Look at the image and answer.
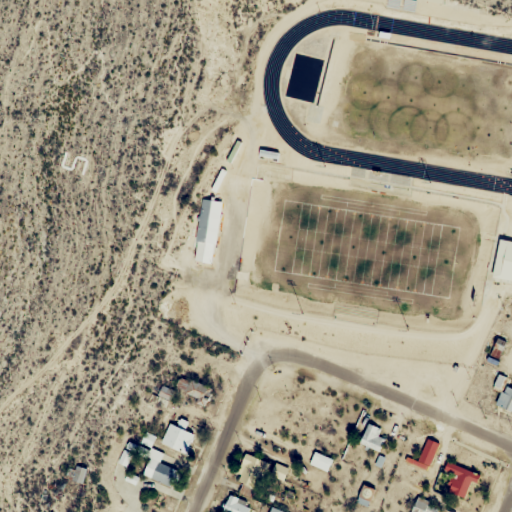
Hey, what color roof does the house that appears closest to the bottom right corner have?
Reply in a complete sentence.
From above, the roof of the house that appears closest to the bottom right corner looks red.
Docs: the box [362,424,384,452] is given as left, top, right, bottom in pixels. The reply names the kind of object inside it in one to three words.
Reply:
house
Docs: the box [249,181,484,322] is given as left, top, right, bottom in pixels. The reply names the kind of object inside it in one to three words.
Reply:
sports field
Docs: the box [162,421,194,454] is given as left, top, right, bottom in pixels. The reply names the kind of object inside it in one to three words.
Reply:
house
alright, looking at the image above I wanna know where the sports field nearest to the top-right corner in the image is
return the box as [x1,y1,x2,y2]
[280,27,512,178]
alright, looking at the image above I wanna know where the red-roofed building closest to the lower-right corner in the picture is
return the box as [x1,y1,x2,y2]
[446,464,480,499]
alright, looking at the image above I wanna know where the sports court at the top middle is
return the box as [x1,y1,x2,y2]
[286,54,324,102]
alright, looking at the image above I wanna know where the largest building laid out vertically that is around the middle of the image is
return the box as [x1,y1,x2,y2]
[194,200,222,264]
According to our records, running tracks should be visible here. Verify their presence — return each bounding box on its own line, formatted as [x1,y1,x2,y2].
[264,10,512,194]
